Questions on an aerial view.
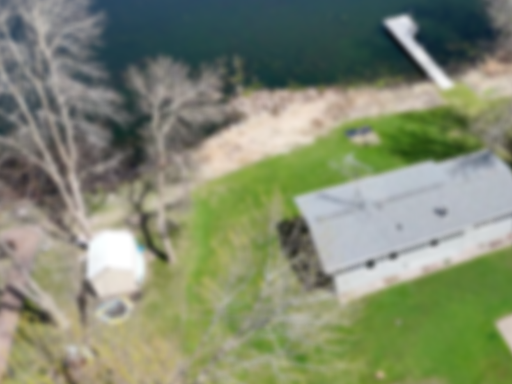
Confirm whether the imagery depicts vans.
No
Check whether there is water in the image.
Yes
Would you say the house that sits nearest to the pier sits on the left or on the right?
right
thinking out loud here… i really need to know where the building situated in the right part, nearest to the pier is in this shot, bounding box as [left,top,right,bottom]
[292,145,512,302]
